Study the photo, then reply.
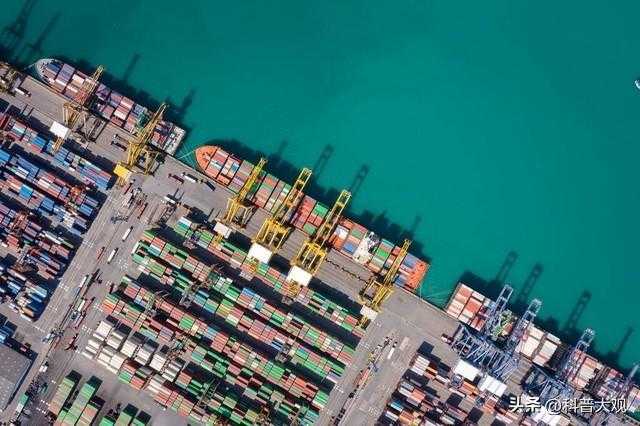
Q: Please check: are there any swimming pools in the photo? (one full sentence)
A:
No, there's no swimming pool here.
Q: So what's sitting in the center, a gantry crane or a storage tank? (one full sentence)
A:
The feature located in the center is a gantry crane.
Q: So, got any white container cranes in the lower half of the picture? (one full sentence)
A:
Yes, a white container crane is visible in the lower half of the picture.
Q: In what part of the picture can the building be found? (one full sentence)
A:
The building is in the bottom left part of the image.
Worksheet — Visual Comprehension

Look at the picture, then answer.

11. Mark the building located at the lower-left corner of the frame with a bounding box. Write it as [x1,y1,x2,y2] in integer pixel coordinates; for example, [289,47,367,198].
[0,337,37,422]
